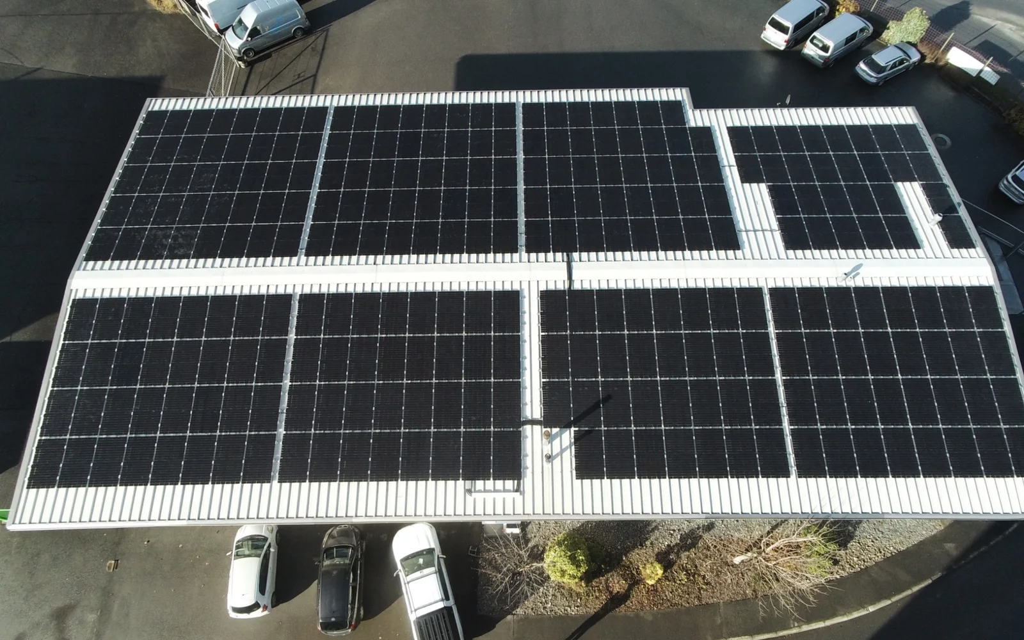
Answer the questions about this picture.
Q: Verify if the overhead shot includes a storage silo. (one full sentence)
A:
No, there is no storage silo in the image.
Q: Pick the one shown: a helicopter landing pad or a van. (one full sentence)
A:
Of the two, only a van appears.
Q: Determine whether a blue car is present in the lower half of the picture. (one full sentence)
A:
No, the scene shows no blue car in the lower half of the picture.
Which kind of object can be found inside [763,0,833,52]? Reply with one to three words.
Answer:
van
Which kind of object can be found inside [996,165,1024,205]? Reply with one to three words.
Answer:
car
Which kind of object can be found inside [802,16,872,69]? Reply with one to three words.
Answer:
van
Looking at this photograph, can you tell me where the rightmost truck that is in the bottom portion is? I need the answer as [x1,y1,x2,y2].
[394,522,461,640]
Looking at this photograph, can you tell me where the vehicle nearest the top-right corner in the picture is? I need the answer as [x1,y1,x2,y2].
[856,41,925,86]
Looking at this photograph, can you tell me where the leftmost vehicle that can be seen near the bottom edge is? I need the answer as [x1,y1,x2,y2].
[226,524,281,622]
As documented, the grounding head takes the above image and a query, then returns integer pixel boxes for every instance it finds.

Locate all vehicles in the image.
[394,522,461,640]
[226,524,281,622]
[856,41,925,86]
[802,16,872,69]
[207,0,257,31]
[996,165,1024,205]
[225,0,308,59]
[763,0,833,52]
[315,523,367,635]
